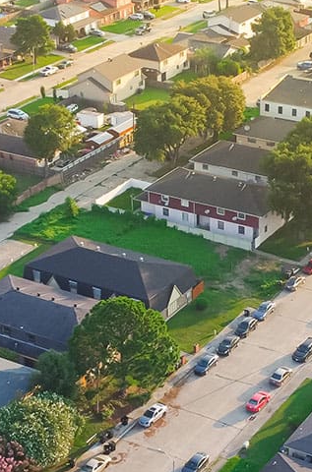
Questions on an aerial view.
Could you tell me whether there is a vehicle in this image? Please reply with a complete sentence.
Yes, this view includes a vehicle.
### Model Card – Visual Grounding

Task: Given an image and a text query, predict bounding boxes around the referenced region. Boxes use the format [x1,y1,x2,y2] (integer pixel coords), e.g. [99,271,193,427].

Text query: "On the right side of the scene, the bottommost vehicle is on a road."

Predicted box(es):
[178,446,209,472]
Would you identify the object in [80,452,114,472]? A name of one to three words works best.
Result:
car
